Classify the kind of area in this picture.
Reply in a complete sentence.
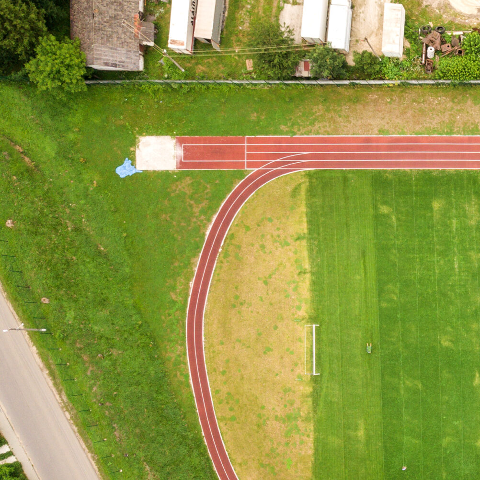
It's a sports ground.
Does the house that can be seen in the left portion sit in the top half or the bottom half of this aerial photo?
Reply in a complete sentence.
The house that can be seen in the left portion sits in the top half of the picture.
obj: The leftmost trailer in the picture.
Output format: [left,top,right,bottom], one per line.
[169,0,196,53]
